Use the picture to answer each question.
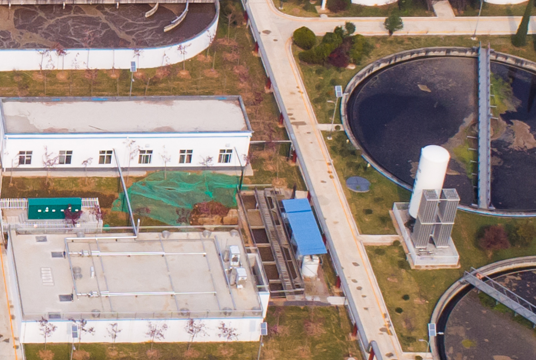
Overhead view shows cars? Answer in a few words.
No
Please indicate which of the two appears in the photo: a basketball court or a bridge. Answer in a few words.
bridge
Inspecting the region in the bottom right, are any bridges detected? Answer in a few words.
Yes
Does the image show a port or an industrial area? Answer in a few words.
industrial area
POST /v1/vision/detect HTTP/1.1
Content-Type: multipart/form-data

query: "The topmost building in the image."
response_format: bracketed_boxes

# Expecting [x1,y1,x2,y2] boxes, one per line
[0,96,253,171]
